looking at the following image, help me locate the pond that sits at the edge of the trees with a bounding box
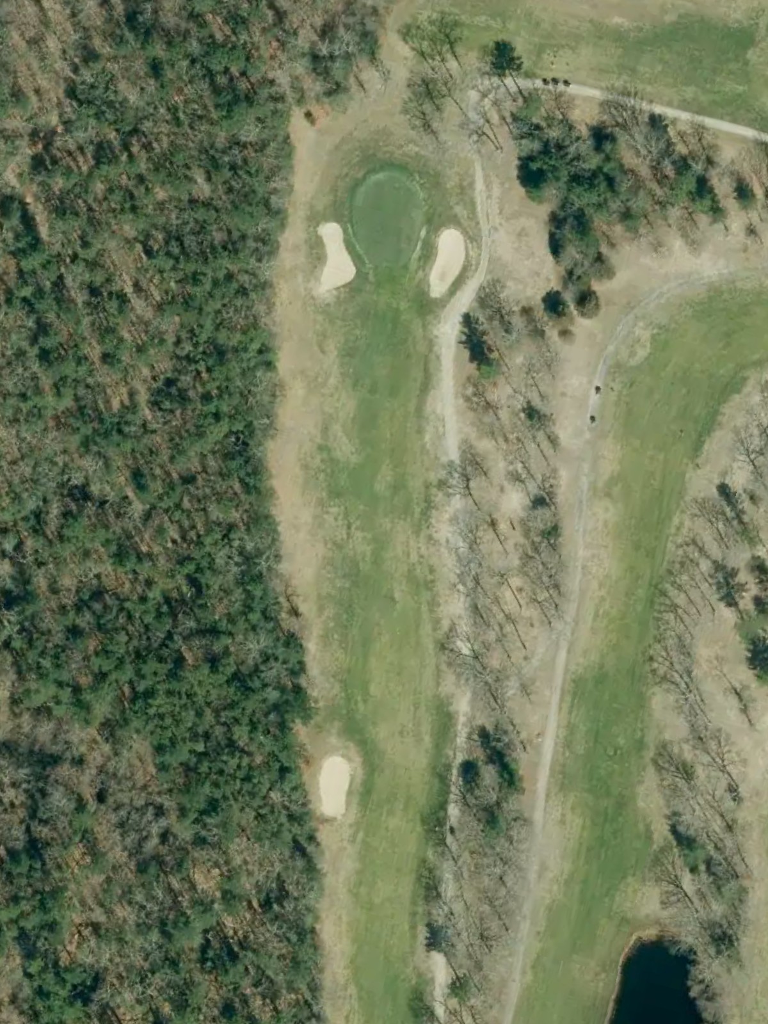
[607,938,703,1024]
